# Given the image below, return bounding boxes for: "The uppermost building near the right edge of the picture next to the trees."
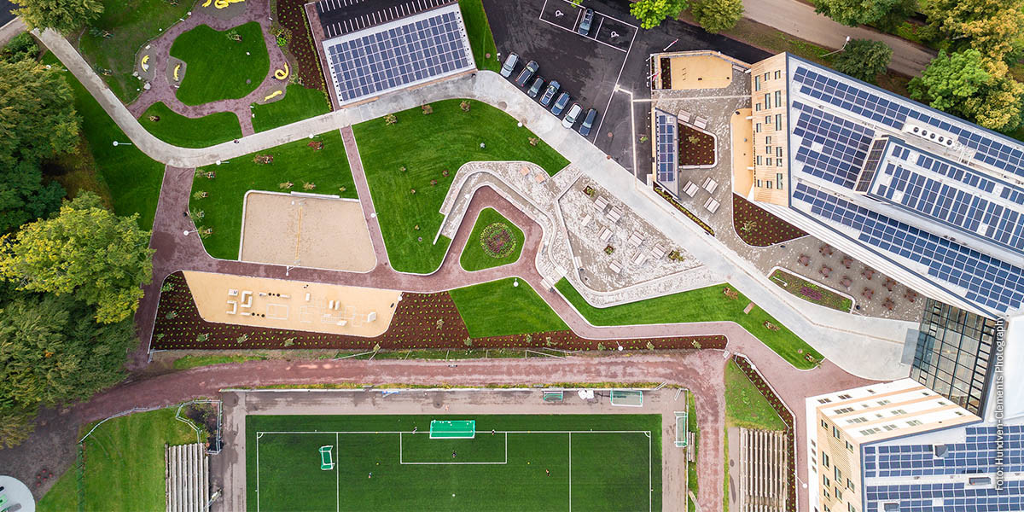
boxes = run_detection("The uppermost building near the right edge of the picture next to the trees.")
[748,52,1024,330]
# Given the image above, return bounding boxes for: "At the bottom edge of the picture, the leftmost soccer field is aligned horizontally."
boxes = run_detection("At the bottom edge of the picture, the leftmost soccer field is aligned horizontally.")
[246,415,662,512]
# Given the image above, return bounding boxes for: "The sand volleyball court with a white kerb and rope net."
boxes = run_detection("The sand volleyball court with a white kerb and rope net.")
[239,190,378,273]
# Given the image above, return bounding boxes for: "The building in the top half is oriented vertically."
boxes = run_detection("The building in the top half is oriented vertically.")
[656,108,679,200]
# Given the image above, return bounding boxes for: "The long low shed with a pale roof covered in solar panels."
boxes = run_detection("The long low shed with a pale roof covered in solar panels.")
[323,4,477,107]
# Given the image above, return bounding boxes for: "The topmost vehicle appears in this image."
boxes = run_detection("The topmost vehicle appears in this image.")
[578,8,594,35]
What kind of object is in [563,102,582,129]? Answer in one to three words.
car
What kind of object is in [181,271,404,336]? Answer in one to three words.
playground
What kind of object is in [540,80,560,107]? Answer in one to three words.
car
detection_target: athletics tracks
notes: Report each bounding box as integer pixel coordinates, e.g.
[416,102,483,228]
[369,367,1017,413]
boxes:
[42,349,727,512]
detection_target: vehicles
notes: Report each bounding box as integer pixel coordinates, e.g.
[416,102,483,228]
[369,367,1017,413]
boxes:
[578,8,594,35]
[563,102,582,129]
[540,80,560,107]
[517,59,537,88]
[551,90,570,117]
[501,52,519,78]
[528,76,545,99]
[579,107,598,135]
